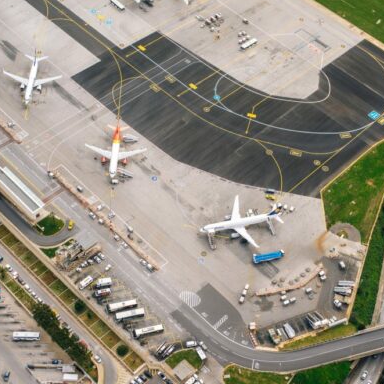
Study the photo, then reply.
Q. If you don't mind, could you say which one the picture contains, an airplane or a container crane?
airplane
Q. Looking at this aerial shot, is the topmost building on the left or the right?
left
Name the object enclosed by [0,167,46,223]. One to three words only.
building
